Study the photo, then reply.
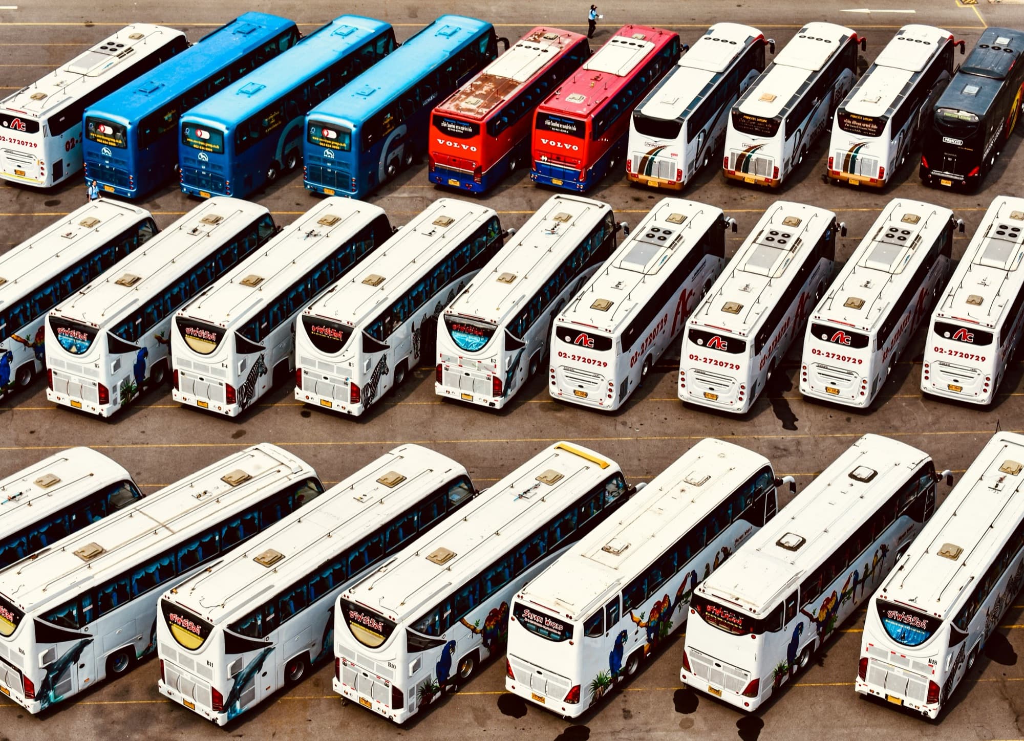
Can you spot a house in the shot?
No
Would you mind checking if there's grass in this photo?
No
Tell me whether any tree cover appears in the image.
No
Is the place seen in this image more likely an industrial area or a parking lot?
parking lot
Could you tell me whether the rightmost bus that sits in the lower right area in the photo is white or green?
white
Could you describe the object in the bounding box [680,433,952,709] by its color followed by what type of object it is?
white bus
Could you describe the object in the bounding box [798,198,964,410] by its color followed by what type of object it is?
white bus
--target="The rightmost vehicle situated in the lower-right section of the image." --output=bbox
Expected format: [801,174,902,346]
[854,411,1024,721]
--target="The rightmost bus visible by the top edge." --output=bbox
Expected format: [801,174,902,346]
[919,20,1024,193]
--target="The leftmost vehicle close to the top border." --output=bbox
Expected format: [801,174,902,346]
[0,20,197,188]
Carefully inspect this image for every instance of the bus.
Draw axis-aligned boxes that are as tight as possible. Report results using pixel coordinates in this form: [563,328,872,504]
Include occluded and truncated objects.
[0,447,153,570]
[332,442,640,727]
[798,198,964,410]
[549,198,736,413]
[45,195,286,418]
[722,23,868,186]
[680,433,952,709]
[919,20,1024,193]
[678,201,847,415]
[625,24,773,191]
[157,444,486,727]
[854,411,1024,721]
[0,443,327,714]
[83,12,312,199]
[503,437,794,719]
[179,15,409,197]
[171,196,398,418]
[919,195,1024,406]
[295,197,513,417]
[530,24,688,191]
[0,20,197,188]
[428,25,598,194]
[0,200,160,400]
[434,193,627,412]
[304,15,509,198]
[826,25,965,187]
